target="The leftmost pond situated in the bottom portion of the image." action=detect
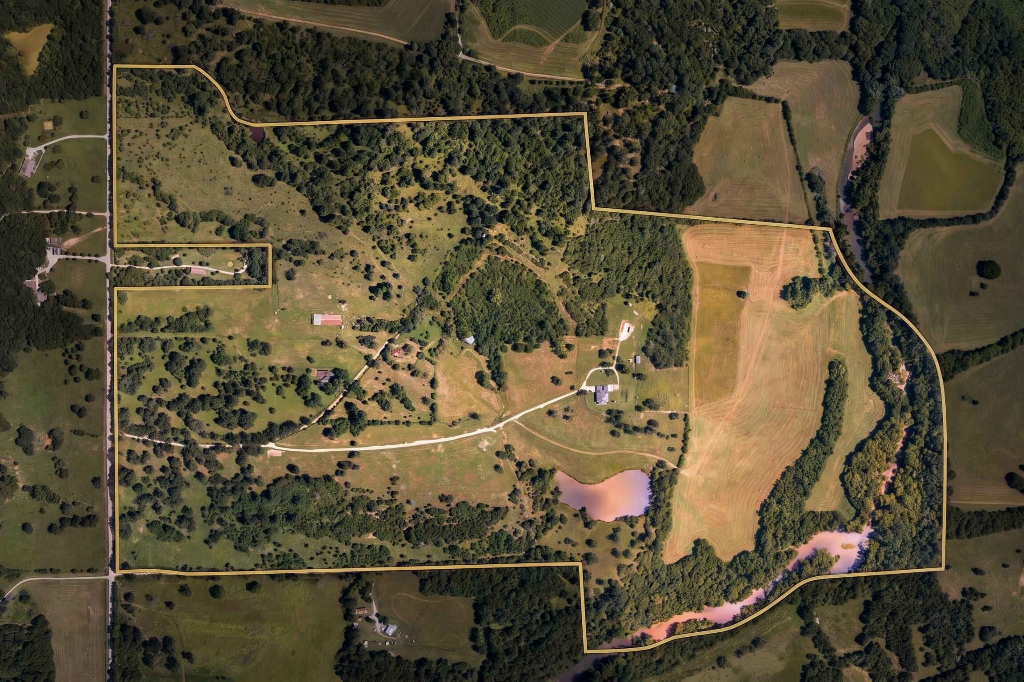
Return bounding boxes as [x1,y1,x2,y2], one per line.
[557,470,650,523]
